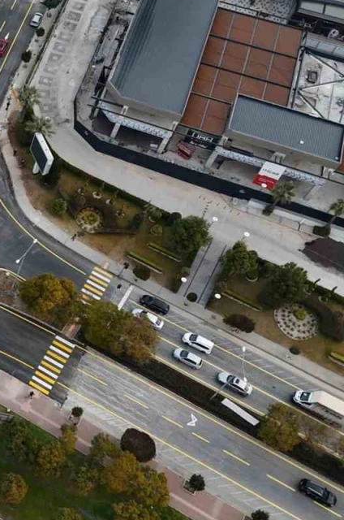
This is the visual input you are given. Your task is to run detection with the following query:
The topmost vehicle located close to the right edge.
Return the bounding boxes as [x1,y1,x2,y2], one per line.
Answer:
[294,375,344,424]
